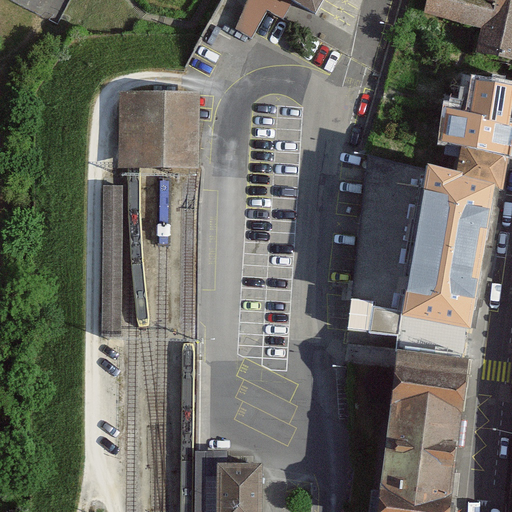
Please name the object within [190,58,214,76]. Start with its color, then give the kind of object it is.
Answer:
blue vehicle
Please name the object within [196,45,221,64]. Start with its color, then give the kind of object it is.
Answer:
white vehicle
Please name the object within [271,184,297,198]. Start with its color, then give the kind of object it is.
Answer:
gray vehicle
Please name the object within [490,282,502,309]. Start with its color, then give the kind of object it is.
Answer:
white vehicle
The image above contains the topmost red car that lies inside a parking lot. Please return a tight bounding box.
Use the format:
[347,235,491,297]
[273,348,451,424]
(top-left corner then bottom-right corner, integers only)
[314,45,330,67]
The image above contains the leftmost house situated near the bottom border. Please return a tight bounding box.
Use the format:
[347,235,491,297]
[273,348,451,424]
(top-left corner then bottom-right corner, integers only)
[216,462,264,512]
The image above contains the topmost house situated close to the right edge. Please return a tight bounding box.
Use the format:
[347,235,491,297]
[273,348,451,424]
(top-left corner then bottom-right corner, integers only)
[424,0,512,60]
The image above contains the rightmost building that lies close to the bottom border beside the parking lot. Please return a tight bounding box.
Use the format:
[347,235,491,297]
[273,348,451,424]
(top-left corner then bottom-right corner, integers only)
[378,348,470,512]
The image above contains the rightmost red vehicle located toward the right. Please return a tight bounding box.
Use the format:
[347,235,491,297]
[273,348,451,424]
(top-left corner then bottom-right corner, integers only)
[356,93,371,116]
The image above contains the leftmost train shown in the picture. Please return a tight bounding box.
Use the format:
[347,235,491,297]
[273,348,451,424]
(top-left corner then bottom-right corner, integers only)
[127,168,149,328]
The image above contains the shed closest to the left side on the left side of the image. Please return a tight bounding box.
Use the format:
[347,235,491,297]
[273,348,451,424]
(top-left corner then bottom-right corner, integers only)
[102,185,124,335]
